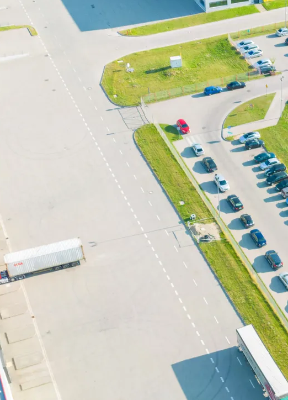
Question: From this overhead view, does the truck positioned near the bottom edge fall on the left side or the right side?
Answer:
right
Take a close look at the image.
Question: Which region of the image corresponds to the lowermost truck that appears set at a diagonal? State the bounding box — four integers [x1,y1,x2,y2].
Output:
[236,323,288,400]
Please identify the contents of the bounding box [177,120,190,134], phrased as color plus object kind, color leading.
red vehicle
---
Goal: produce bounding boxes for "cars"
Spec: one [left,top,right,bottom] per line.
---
[203,85,223,97]
[241,215,256,230]
[245,50,264,59]
[236,40,256,50]
[278,272,288,291]
[275,178,288,190]
[225,82,247,92]
[255,58,272,68]
[241,44,260,54]
[244,140,265,151]
[238,132,262,143]
[192,144,205,156]
[263,163,288,177]
[202,157,219,174]
[252,152,277,164]
[227,195,245,212]
[215,175,230,192]
[177,120,190,134]
[266,170,288,184]
[279,185,288,199]
[258,158,283,170]
[249,230,269,248]
[264,251,285,272]
[276,28,288,37]
[258,65,278,74]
